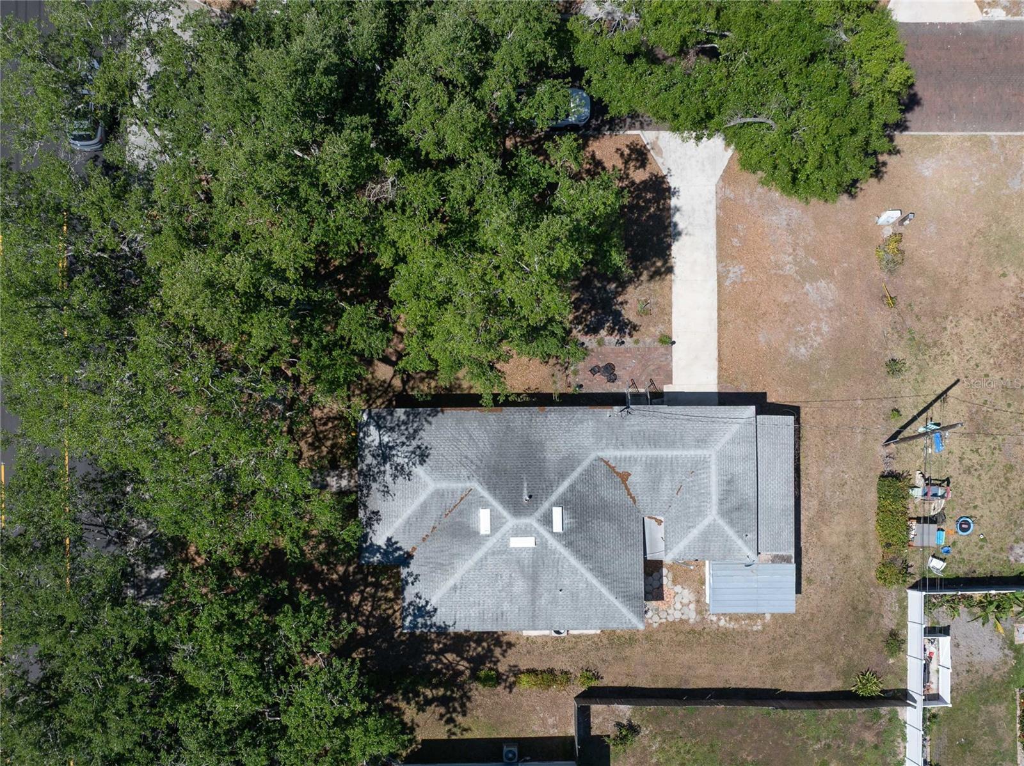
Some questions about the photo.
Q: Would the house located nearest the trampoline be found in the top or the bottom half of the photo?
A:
bottom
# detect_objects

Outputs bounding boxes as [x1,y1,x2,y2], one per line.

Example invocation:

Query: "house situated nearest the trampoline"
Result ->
[359,381,796,635]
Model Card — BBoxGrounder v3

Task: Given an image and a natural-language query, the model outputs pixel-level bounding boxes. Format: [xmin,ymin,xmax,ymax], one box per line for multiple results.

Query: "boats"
[878,210,902,225]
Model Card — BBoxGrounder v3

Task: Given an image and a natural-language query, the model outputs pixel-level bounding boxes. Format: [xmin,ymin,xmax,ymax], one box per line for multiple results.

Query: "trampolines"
[955,518,976,535]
